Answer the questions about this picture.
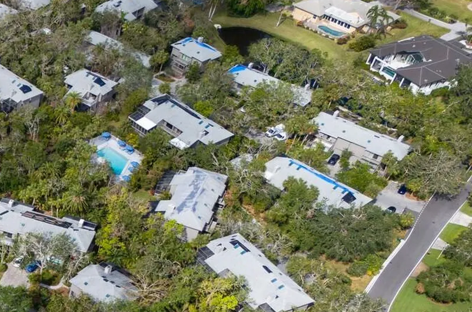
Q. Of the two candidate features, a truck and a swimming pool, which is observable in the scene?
swimming pool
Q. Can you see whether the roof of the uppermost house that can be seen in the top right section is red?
No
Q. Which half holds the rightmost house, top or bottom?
top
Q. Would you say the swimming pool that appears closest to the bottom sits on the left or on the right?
left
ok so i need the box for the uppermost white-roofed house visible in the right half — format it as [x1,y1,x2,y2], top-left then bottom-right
[301,0,390,37]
